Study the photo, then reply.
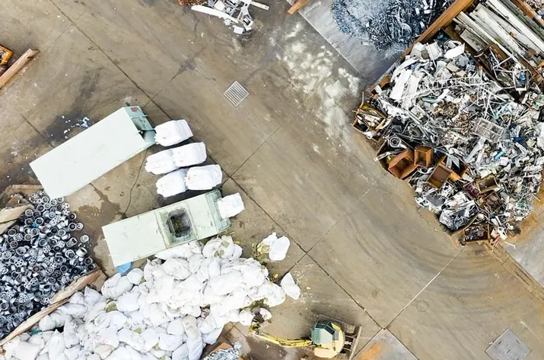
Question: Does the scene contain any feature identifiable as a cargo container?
Yes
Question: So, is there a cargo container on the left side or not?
Yes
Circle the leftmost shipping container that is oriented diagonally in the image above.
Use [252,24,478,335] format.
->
[27,106,161,199]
